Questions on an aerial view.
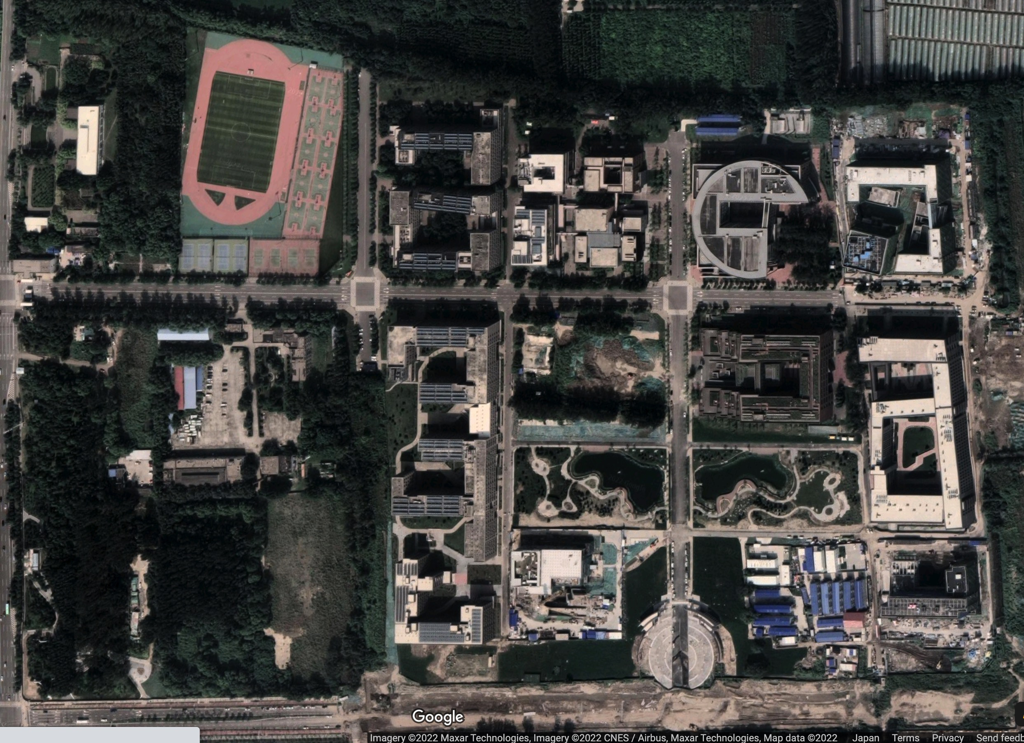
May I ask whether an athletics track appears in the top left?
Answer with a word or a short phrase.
Yes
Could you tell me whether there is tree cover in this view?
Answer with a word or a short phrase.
Yes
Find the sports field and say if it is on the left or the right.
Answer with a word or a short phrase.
left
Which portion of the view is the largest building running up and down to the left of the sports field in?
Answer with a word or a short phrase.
top left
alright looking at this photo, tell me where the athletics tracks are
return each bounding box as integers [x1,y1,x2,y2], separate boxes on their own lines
[181,39,310,226]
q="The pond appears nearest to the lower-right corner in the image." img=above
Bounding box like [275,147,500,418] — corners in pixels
[695,455,789,506]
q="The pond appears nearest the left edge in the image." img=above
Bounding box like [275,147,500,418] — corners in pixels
[572,452,664,510]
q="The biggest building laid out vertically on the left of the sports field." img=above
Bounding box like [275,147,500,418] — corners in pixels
[76,104,106,173]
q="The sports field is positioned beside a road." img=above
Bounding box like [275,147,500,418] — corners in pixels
[180,33,344,238]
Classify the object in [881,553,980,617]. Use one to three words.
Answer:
building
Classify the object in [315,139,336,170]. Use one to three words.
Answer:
basketball court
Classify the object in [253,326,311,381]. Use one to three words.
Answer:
house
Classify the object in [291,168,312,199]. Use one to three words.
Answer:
basketball court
